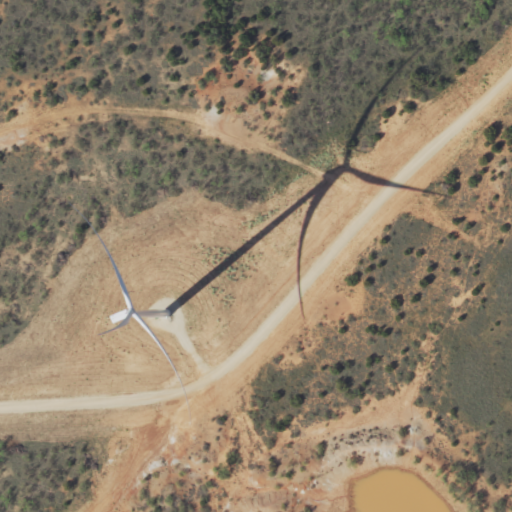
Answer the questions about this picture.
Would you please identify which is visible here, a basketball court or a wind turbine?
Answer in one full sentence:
There is a wind turbine in the scene.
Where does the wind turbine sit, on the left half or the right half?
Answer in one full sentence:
The wind turbine is on the left side of the image.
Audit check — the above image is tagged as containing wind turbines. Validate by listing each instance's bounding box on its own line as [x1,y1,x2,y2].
[80,215,186,410]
